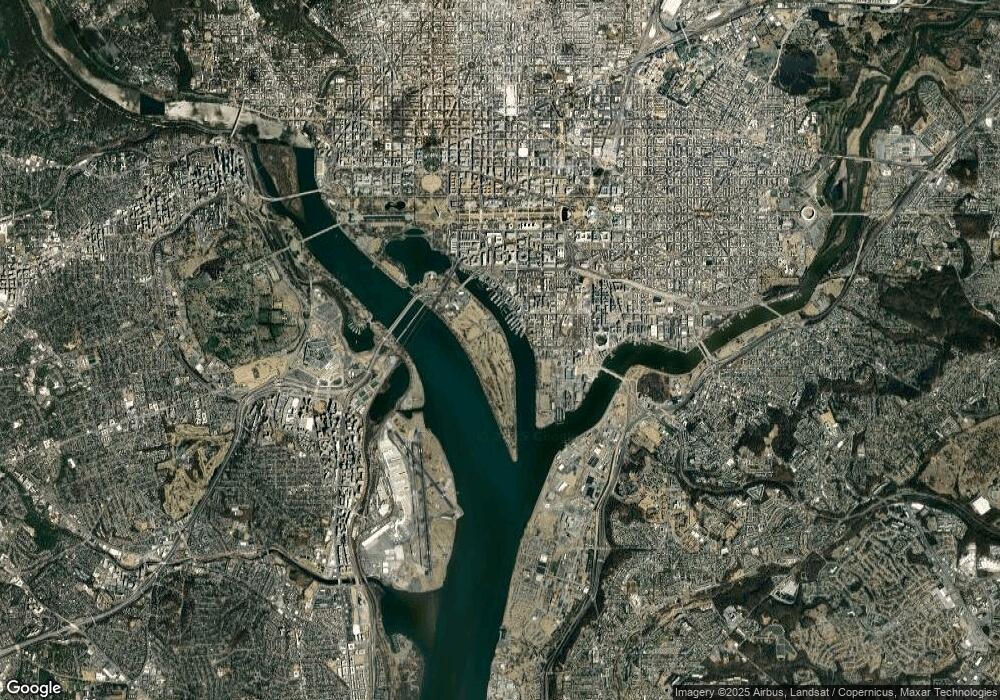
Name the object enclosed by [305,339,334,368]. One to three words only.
building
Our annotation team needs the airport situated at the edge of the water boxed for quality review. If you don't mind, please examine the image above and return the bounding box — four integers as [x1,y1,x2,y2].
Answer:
[361,422,463,574]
